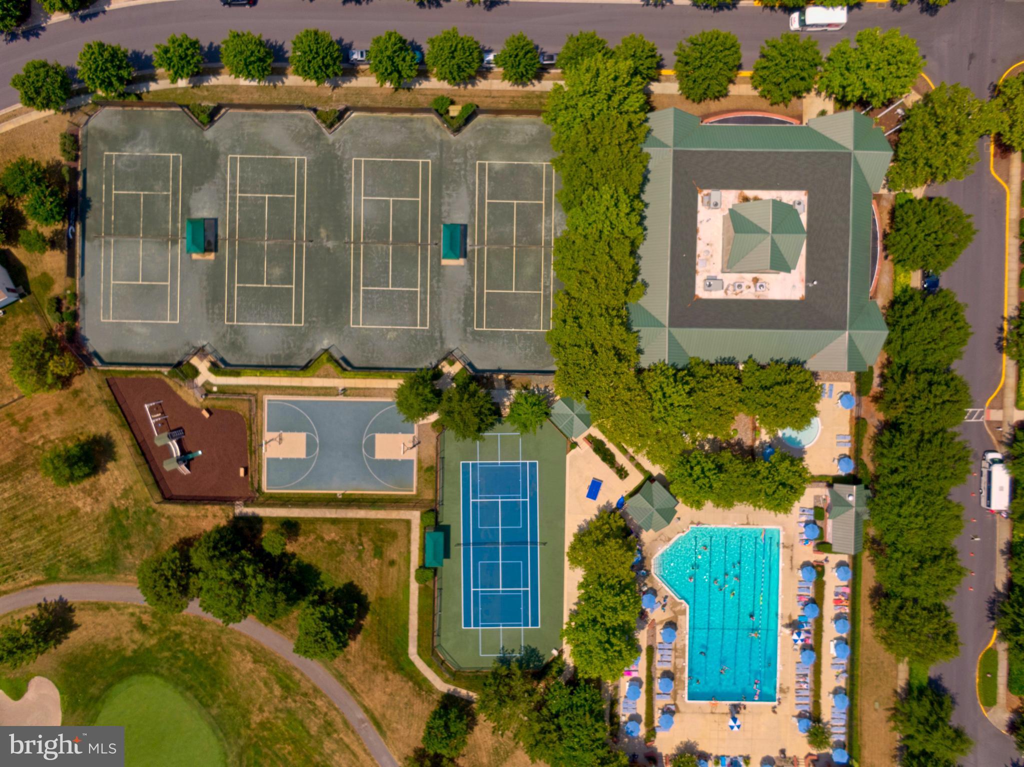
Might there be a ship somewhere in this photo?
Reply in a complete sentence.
No, there's no ship here.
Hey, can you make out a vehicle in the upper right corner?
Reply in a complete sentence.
Yes, the scene does show a vehicle in the upper right corner.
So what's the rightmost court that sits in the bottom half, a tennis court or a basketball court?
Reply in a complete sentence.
The rightmost court that sits in the bottom half in the image is a tennis court.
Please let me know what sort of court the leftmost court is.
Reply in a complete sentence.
I'd say the leftmost court is a tennis court.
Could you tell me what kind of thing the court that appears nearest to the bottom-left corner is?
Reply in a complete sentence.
From above, the court that appears nearest to the bottom-left corner can be identified as a basketball court.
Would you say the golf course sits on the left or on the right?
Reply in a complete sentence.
It is on the left.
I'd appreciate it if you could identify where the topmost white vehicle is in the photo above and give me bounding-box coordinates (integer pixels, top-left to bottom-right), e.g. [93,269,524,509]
[788,6,847,32]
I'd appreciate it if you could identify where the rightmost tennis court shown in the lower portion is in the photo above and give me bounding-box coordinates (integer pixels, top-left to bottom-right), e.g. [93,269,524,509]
[435,419,567,671]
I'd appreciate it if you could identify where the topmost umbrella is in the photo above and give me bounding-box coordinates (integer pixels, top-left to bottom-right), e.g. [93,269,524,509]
[839,394,854,408]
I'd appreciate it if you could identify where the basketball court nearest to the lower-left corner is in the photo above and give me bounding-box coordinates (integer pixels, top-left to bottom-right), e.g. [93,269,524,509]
[263,396,418,494]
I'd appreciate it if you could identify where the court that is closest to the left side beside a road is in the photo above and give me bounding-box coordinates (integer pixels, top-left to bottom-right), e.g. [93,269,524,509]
[80,108,205,366]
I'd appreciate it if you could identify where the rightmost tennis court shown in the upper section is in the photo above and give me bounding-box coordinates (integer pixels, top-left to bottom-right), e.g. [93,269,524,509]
[450,117,564,373]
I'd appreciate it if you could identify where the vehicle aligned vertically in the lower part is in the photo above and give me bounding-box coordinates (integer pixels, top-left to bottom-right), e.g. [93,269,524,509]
[979,449,1009,511]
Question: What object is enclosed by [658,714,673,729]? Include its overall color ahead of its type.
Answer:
blue umbrella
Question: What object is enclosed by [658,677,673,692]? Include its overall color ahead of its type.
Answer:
blue umbrella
